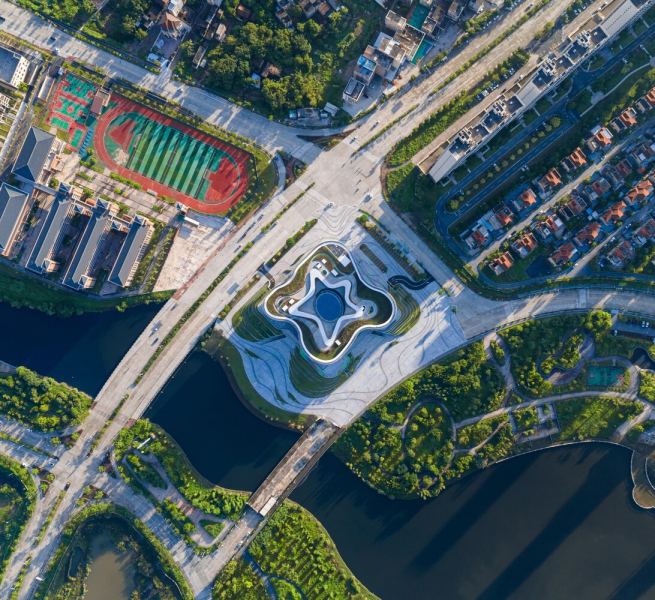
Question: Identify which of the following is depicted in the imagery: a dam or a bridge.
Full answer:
I can see a bridge in this picture.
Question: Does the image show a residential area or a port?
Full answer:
What you see here is a residential area.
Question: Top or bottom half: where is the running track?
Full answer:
The running track is in the top half of the image.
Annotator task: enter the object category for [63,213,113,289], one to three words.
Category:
building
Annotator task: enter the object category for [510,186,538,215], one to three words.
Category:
house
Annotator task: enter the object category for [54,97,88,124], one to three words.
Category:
basketball court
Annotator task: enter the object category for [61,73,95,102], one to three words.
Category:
basketball court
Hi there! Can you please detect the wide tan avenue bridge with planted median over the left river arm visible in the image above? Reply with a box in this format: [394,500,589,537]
[102,306,201,413]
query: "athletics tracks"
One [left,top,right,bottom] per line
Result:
[96,90,255,212]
